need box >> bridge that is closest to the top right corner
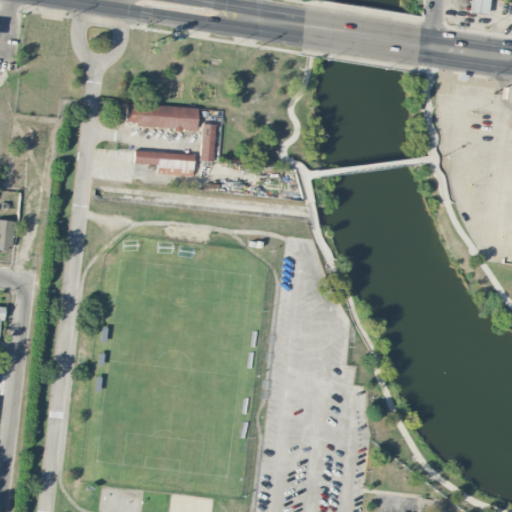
[304,0,420,71]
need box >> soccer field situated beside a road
[97,260,251,477]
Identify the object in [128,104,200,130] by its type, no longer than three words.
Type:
barn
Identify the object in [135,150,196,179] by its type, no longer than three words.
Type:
barn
